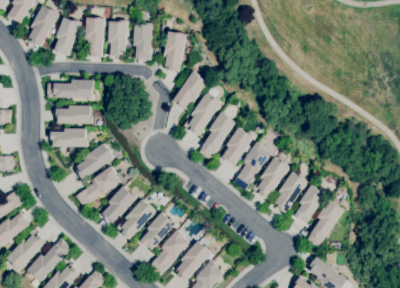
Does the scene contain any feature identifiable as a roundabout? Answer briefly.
No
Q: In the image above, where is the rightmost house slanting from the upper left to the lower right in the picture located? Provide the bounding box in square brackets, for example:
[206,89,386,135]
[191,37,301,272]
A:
[309,258,354,288]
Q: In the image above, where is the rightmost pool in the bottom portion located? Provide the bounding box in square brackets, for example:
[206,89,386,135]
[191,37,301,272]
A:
[185,223,204,238]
